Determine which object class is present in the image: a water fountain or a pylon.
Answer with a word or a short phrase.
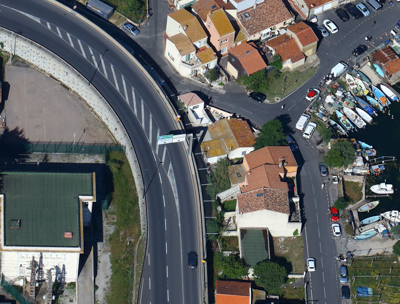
pylon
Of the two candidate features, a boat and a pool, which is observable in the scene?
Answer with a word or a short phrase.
boat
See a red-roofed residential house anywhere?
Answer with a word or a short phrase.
Yes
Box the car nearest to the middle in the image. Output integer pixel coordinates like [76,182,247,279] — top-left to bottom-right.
[248,90,266,103]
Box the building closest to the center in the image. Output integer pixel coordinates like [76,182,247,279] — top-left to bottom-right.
[201,139,227,166]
